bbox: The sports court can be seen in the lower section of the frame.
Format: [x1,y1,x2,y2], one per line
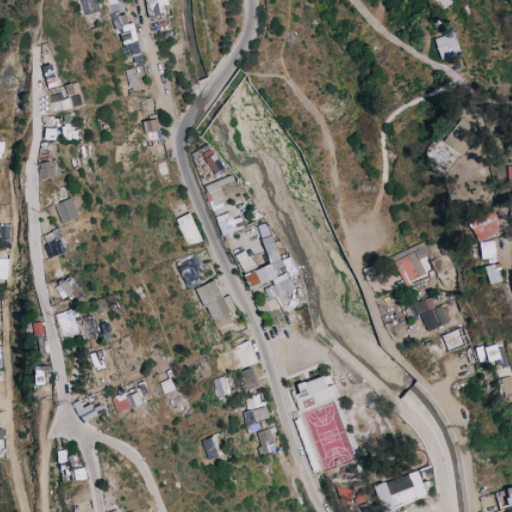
[303,401,355,472]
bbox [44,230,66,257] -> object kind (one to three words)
house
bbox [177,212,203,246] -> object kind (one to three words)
building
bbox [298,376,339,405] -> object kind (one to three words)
building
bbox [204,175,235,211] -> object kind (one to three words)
house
